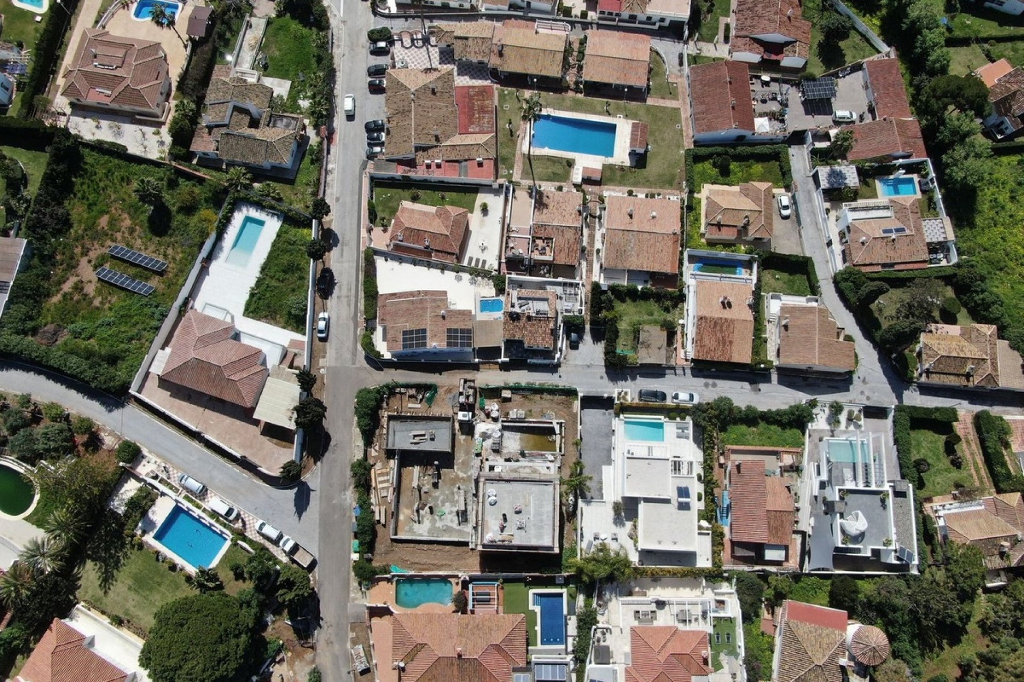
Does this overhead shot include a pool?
Yes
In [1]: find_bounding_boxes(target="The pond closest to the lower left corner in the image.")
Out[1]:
[0,459,40,523]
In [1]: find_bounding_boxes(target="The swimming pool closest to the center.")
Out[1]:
[478,297,505,313]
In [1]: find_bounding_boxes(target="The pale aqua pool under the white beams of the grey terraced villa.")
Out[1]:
[827,438,869,464]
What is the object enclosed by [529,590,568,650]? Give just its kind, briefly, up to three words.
swimming pool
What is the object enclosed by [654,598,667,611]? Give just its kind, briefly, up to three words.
umbrella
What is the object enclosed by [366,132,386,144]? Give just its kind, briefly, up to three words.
vehicle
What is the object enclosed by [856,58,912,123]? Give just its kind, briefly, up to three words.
house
